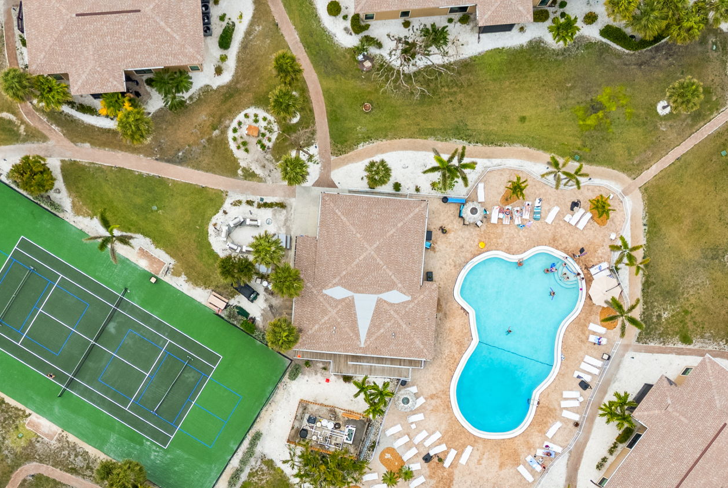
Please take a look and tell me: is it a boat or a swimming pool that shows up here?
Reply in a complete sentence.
It is a swimming pool that can be seen here.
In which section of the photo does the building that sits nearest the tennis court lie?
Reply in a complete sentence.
Look in the center portion of the view to spot the building that sits nearest the tennis court.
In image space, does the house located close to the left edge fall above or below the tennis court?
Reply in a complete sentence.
The house located close to the left edge is found above the tennis court in the photo.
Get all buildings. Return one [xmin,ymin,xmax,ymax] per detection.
[289,193,439,361]
[22,0,205,105]
[352,0,554,40]
[588,351,728,488]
